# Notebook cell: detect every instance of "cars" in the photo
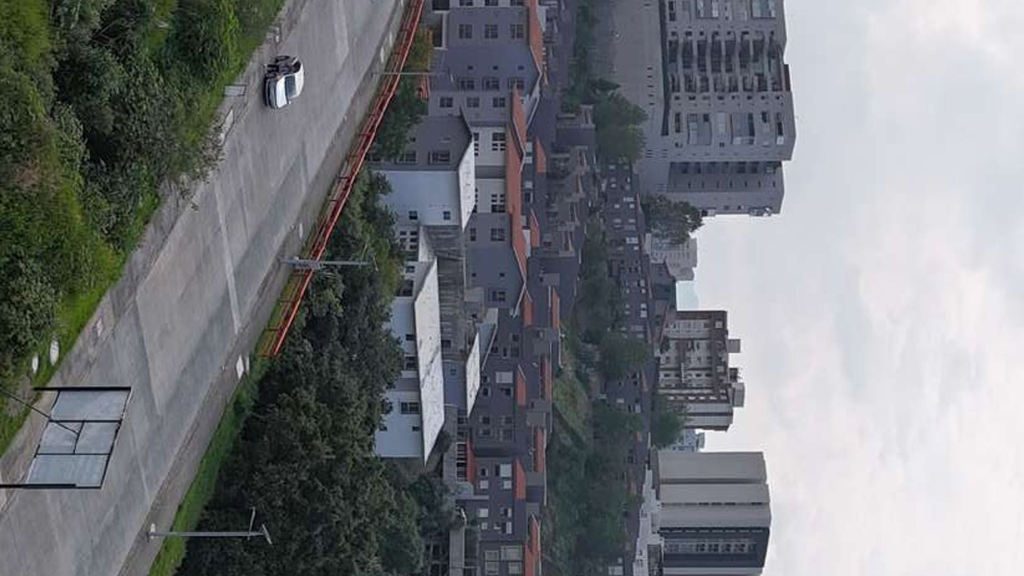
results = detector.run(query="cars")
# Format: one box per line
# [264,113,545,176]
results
[265,61,310,105]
